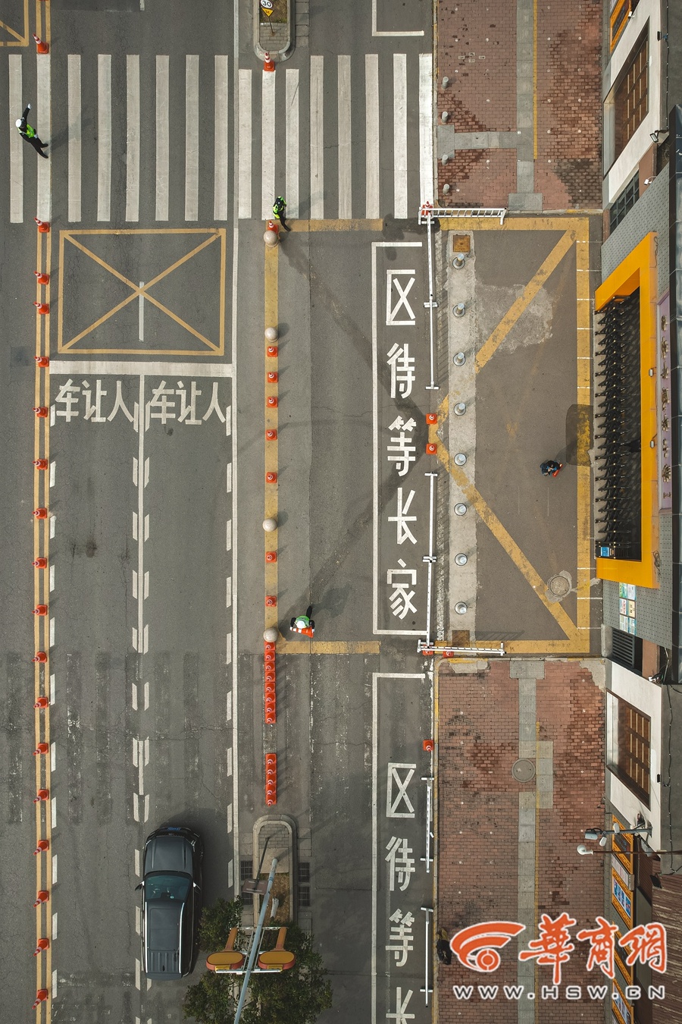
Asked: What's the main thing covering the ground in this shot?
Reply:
paved ground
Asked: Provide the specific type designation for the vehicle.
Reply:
automobile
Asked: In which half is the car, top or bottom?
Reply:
bottom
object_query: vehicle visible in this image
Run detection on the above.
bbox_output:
[136,823,203,975]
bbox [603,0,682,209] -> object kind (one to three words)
building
